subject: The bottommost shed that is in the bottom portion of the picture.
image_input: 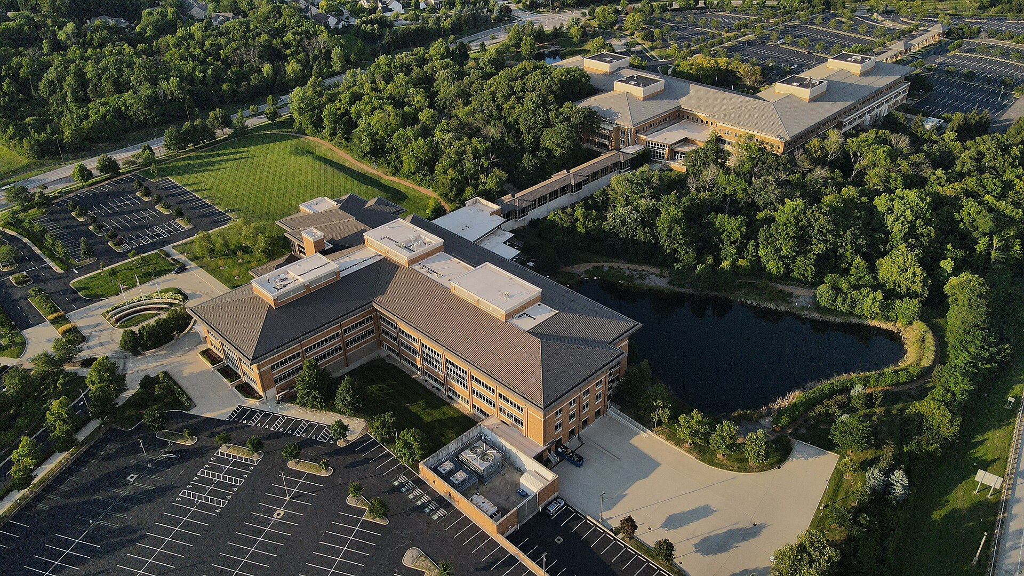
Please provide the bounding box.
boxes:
[521,473,546,497]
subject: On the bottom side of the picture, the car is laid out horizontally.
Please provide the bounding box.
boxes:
[159,447,183,461]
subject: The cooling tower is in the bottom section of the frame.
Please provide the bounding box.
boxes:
[463,439,513,488]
